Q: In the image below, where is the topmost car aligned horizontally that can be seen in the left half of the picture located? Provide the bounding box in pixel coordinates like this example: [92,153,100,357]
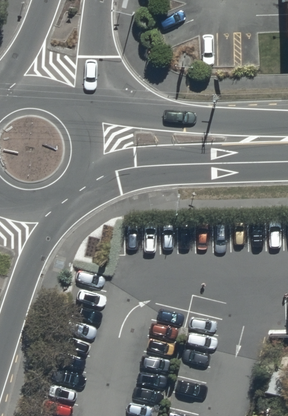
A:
[76,272,105,288]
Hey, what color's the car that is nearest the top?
blue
